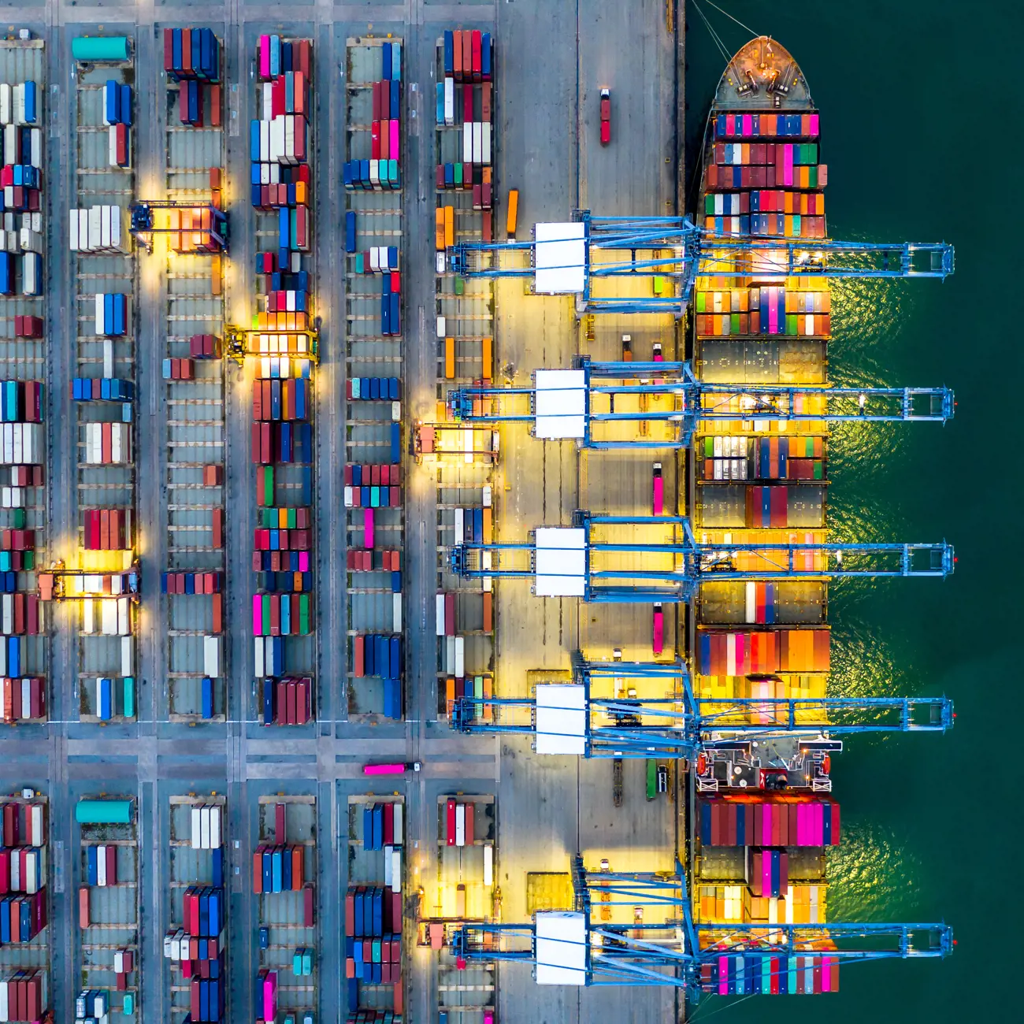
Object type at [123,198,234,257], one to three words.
crane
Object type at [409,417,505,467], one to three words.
crane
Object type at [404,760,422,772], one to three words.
vehicle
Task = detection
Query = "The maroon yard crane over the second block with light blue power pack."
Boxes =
[32,556,146,606]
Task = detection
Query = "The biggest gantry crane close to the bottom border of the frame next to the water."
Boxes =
[451,847,958,991]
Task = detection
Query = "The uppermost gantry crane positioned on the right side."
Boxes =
[450,202,961,336]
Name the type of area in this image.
port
